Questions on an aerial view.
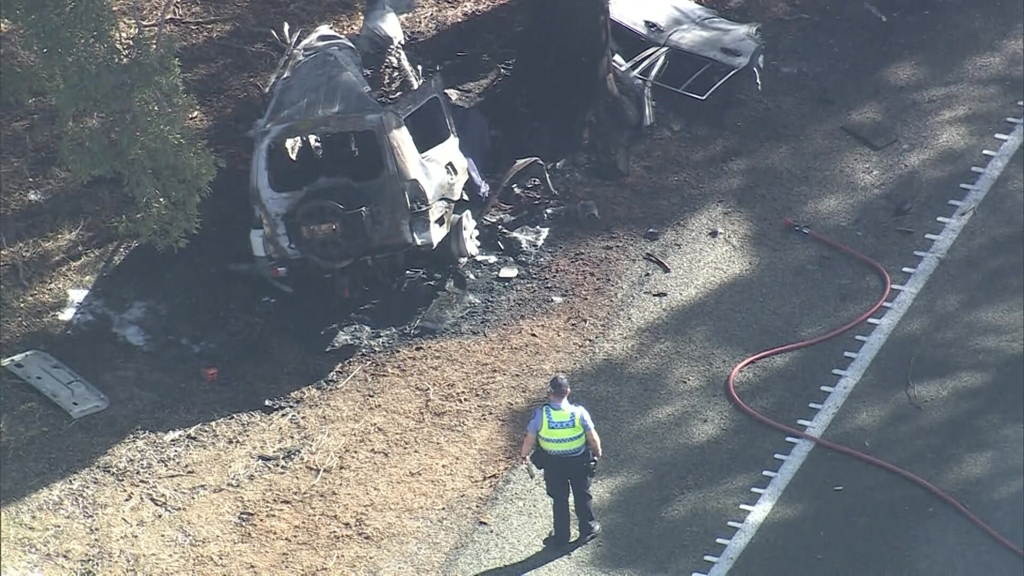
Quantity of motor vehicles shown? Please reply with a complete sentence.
Just 1 motor vehicle appears in this view.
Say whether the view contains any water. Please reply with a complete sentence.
No, the scene doesn't show any water.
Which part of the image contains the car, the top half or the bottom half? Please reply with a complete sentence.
It is in the top half that the car appears.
